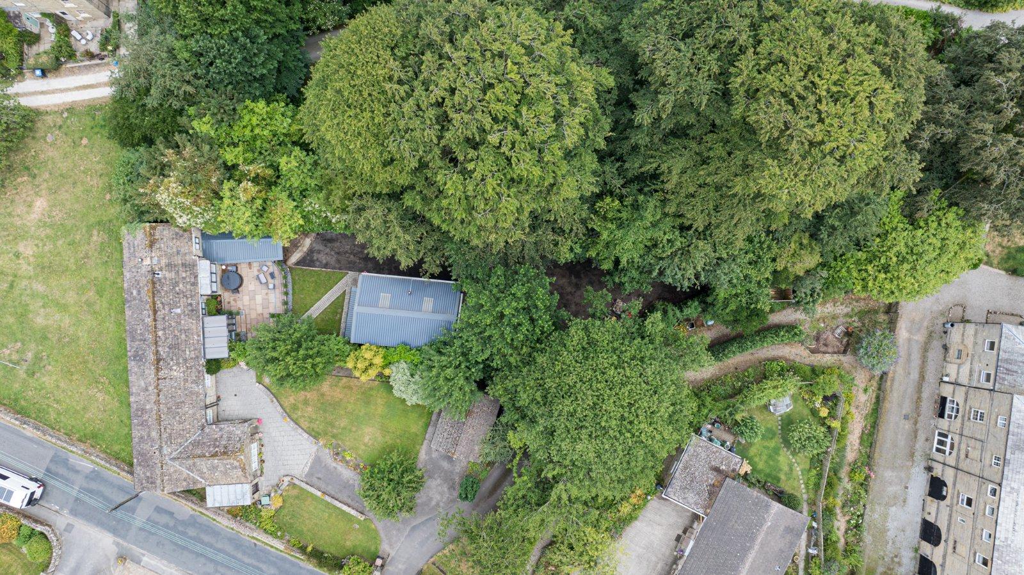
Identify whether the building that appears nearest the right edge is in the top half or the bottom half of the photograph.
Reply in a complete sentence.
Seen from above, the building that appears nearest the right edge lies in the bottom half of the view.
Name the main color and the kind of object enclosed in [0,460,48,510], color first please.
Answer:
white van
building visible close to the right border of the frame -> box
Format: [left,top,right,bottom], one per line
[918,324,1024,575]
